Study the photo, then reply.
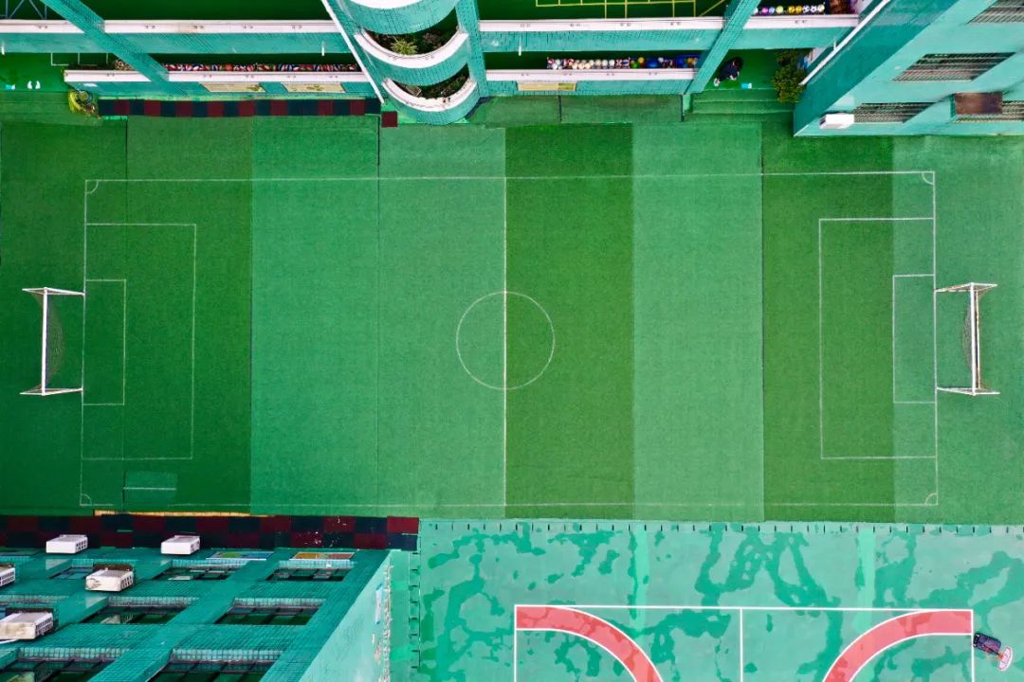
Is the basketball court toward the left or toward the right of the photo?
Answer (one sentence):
It is on the right.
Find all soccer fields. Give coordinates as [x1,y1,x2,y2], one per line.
[0,117,1024,522]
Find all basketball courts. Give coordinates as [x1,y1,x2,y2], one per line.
[420,519,1024,682]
